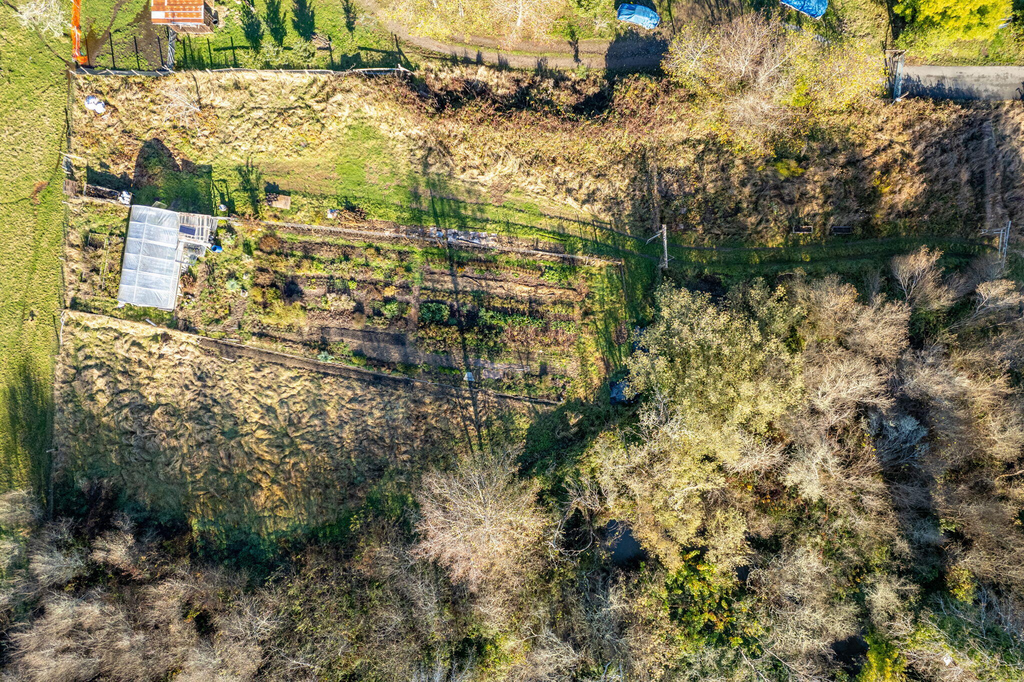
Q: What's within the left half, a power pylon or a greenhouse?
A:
greenhouse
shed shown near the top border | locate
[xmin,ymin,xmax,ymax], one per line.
[148,0,215,35]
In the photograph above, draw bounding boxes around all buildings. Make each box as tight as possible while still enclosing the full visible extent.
[122,204,183,310]
[148,0,215,35]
